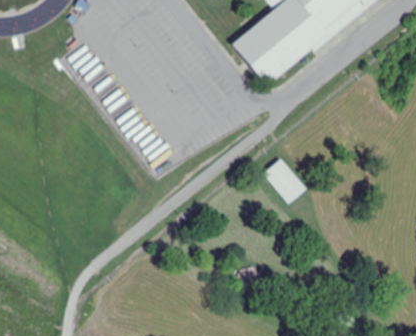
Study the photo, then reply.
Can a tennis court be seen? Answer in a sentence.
No, there's no tennis court here.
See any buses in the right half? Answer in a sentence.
No, there's no bus to be seen in the right half.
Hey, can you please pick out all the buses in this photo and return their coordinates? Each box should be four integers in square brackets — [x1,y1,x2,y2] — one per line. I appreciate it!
[130,123,156,144]
[70,52,96,72]
[118,112,144,133]
[100,86,126,106]
[122,120,148,140]
[114,106,140,126]
[81,62,106,83]
[65,44,91,64]
[91,74,118,94]
[135,130,161,150]
[139,137,165,158]
[105,93,131,114]
[76,56,102,76]
[148,149,174,170]
[146,143,172,163]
